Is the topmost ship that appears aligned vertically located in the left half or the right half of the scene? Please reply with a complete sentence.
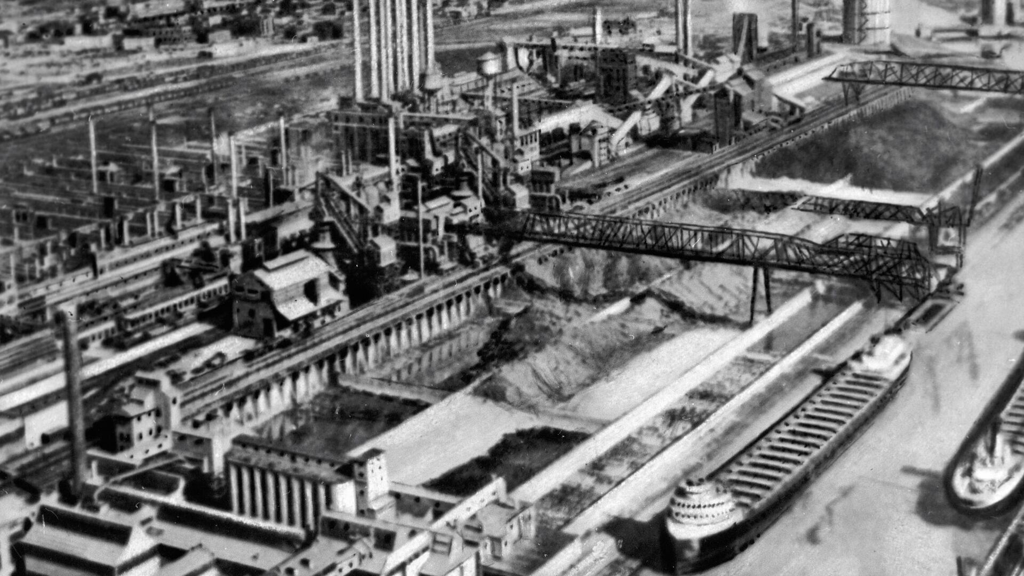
It is on the right.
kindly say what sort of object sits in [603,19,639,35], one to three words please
building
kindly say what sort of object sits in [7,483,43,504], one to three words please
shed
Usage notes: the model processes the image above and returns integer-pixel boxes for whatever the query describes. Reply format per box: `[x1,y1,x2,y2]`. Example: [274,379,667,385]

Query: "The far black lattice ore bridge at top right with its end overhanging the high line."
[826,60,1024,99]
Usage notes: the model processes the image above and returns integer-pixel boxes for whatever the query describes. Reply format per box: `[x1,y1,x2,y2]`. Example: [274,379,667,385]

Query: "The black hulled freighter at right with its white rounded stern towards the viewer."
[941,329,1024,521]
